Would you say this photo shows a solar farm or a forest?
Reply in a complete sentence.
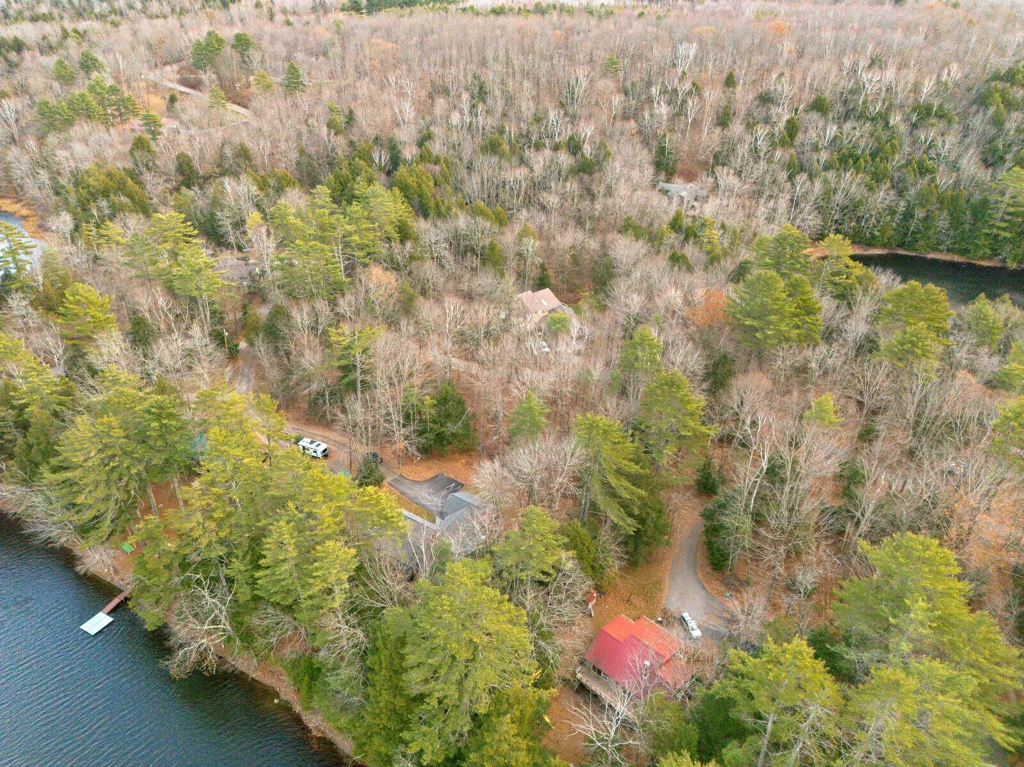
What you see here is a forest.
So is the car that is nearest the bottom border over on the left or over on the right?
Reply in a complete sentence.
It is on the right.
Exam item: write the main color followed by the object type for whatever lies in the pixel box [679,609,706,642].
white car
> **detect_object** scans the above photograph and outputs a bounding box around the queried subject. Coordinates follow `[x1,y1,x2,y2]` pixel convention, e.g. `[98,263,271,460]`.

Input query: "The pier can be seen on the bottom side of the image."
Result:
[77,584,139,636]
